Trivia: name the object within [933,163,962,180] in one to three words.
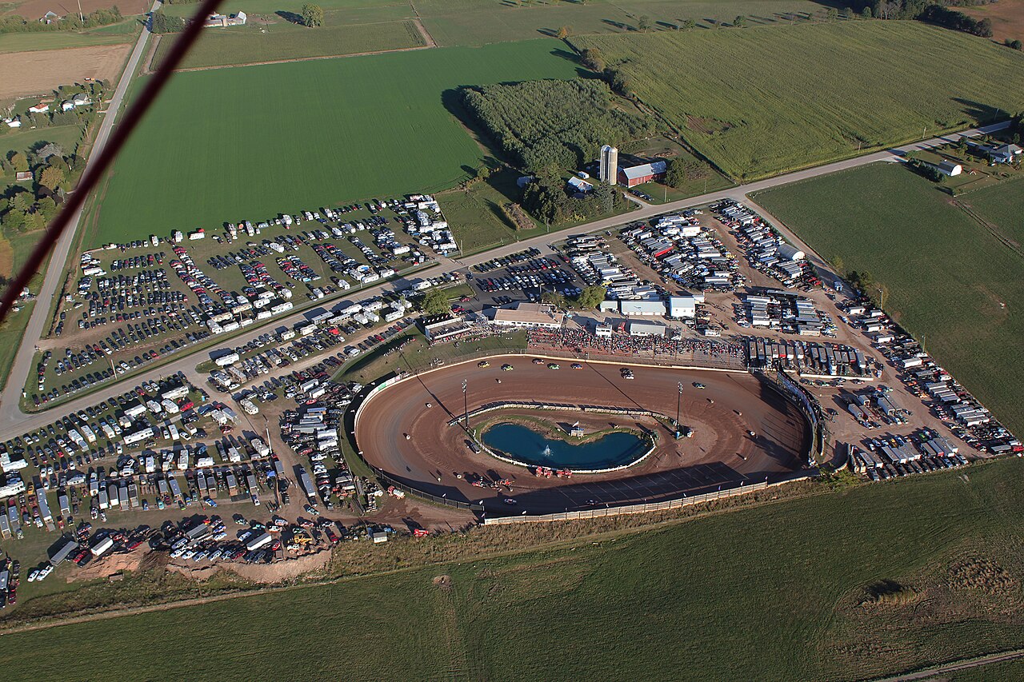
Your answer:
barn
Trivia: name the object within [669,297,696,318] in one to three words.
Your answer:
building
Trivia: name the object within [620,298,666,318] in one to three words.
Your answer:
shed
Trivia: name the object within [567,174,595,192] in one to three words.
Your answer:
house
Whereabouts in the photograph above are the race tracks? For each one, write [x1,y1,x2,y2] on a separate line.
[354,354,813,522]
